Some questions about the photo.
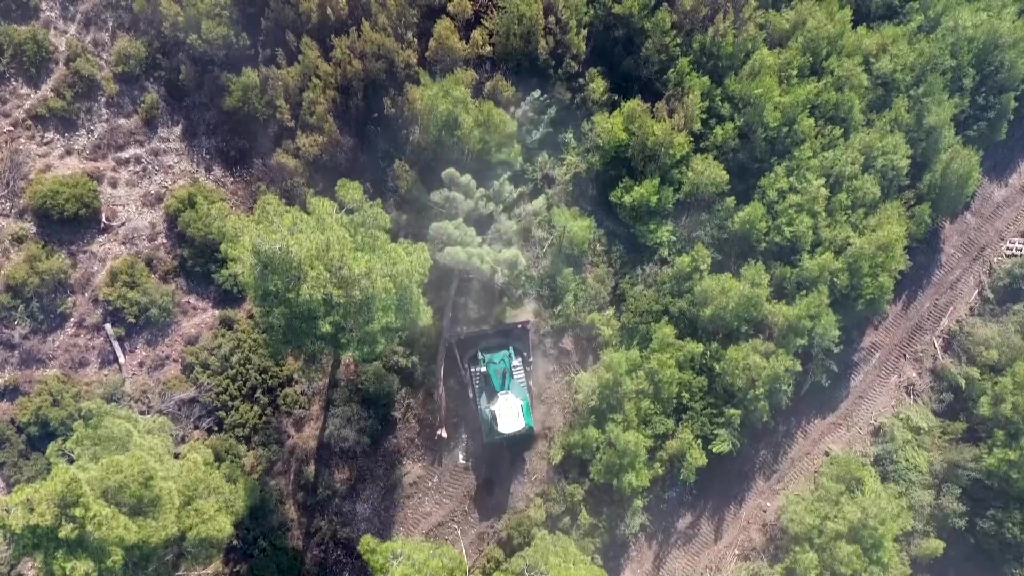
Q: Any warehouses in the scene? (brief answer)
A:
No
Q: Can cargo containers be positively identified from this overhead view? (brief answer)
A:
No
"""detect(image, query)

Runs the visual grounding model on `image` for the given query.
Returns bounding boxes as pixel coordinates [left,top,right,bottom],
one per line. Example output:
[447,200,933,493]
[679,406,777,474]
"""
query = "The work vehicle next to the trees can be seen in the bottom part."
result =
[456,315,544,453]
